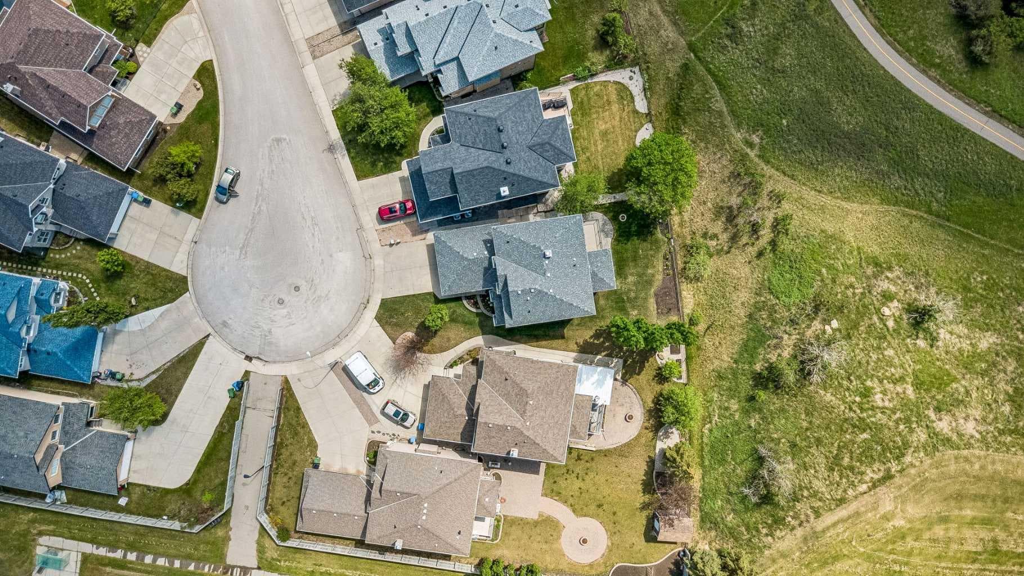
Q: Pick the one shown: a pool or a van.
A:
van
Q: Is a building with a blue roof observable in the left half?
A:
Yes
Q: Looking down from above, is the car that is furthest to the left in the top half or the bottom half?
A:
top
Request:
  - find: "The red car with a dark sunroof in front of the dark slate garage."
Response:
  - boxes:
[375,198,417,221]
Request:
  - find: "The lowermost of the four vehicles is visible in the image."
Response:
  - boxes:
[379,398,418,427]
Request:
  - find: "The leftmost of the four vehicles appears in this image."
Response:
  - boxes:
[215,165,241,204]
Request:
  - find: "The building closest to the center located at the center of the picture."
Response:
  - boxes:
[433,214,617,328]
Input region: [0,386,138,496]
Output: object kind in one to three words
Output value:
house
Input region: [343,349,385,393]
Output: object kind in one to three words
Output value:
van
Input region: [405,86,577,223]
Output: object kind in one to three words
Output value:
house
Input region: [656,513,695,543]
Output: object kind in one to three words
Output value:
shed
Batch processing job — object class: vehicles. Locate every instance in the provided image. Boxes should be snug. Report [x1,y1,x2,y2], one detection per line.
[375,198,417,221]
[379,398,418,427]
[215,165,241,204]
[343,349,385,393]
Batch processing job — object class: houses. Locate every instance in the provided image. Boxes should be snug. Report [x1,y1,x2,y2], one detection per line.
[0,0,165,172]
[0,269,110,384]
[0,386,138,496]
[433,214,617,328]
[356,0,552,99]
[296,440,501,558]
[405,86,577,223]
[423,348,593,465]
[0,131,139,255]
